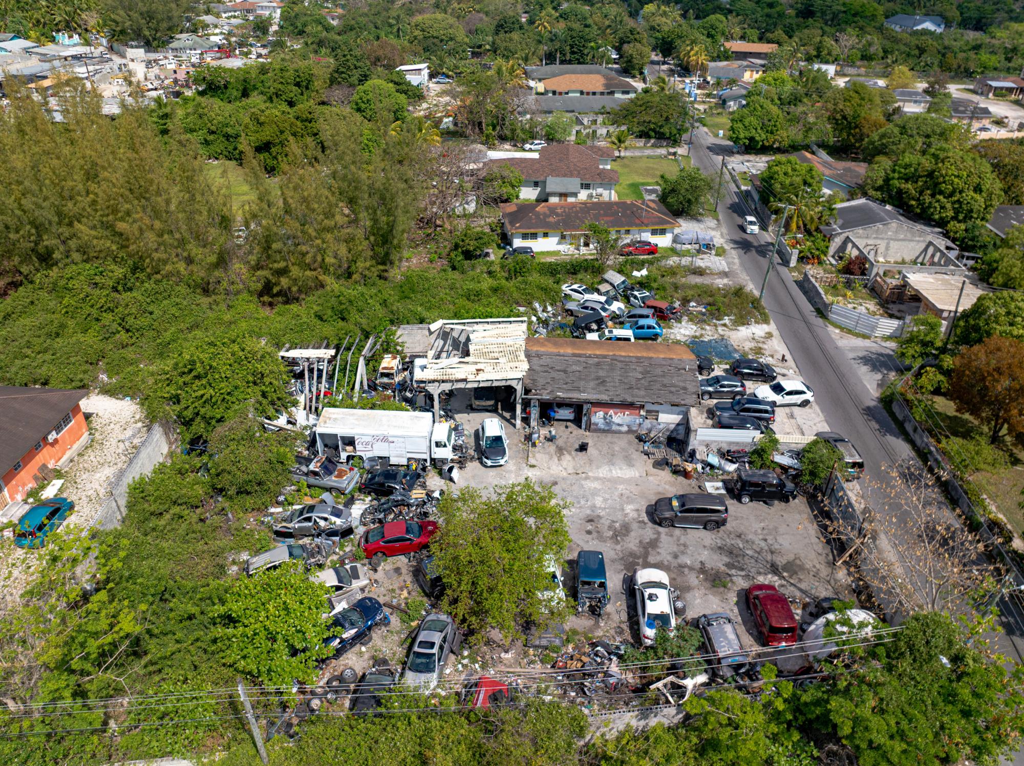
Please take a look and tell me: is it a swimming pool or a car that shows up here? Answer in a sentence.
There is a car in the scene.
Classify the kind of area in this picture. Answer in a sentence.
What you see here is a residential area.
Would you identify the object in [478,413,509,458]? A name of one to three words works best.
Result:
car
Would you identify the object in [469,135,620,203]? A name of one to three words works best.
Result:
house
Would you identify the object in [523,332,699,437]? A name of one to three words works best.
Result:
building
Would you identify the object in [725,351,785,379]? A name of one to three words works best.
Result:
car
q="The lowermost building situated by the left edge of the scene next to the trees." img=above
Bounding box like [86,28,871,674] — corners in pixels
[0,379,105,568]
